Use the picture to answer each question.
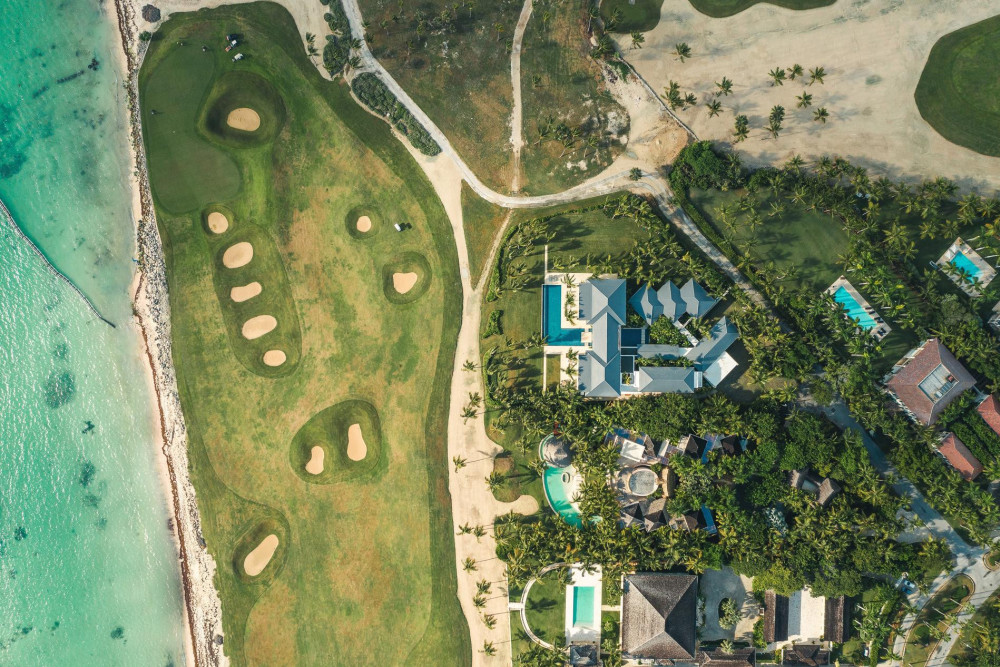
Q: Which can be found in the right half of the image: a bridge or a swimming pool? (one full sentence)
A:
Visible in the right half of the image is a swimming pool.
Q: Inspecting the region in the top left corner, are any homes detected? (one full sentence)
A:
No, no home appears in the top left corner.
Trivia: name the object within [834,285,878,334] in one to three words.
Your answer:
swimming pool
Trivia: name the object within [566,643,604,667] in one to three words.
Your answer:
gazebo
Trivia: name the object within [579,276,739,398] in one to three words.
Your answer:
house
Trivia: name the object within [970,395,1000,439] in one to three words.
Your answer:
house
